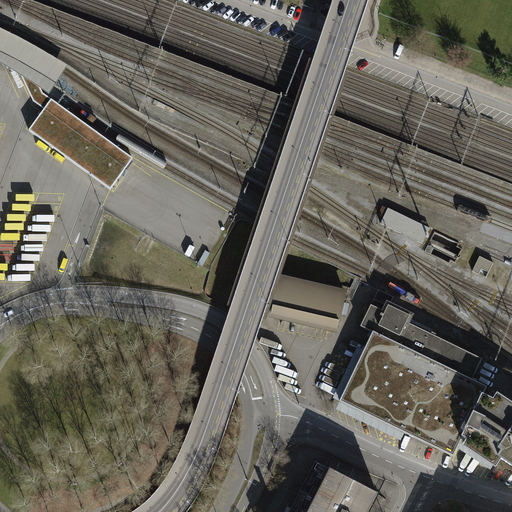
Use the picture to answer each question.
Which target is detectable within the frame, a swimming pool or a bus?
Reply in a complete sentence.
The one in the frame is a bus.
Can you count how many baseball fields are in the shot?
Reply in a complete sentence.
The count of baseball fields is 0.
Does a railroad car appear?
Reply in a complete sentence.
Yes, this view includes a railroad car.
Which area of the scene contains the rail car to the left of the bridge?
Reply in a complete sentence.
The rail car to the left of the bridge is located in the top left region of the scene.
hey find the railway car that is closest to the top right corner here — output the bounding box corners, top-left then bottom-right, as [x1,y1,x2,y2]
[458,204,491,224]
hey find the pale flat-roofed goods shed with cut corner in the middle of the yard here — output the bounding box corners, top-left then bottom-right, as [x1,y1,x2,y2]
[380,206,426,244]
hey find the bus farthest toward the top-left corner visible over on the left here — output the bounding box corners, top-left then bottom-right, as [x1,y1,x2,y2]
[34,141,63,164]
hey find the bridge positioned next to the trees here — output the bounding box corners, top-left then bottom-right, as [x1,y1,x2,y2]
[136,0,368,512]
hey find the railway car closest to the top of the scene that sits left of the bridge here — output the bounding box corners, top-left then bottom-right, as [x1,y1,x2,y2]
[64,98,103,127]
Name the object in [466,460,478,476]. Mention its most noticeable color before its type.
white vehicle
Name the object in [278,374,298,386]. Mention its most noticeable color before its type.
white vehicle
